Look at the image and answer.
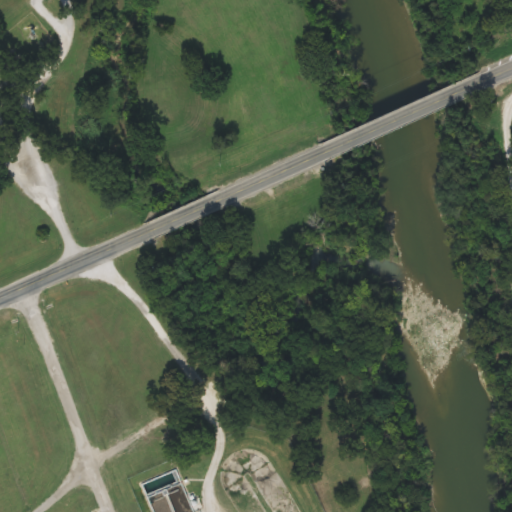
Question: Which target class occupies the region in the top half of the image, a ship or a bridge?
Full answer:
Visible in the top half of the image is a bridge.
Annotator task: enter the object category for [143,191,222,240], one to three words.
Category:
bridge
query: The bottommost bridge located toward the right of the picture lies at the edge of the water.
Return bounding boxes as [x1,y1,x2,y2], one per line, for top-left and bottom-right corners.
[318,74,482,162]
